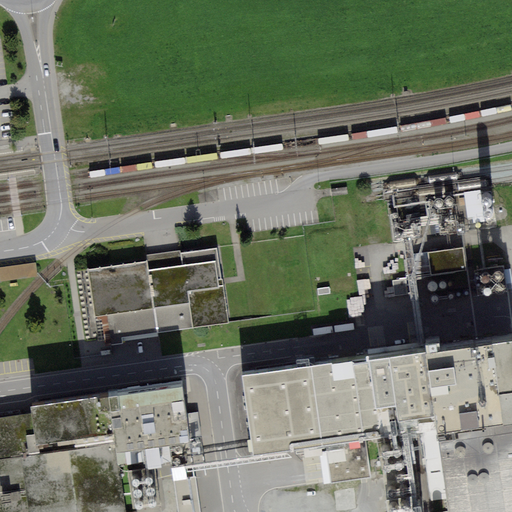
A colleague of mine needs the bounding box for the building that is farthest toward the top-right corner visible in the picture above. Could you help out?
[464,190,484,223]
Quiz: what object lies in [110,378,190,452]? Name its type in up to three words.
building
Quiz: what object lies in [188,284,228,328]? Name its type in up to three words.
building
